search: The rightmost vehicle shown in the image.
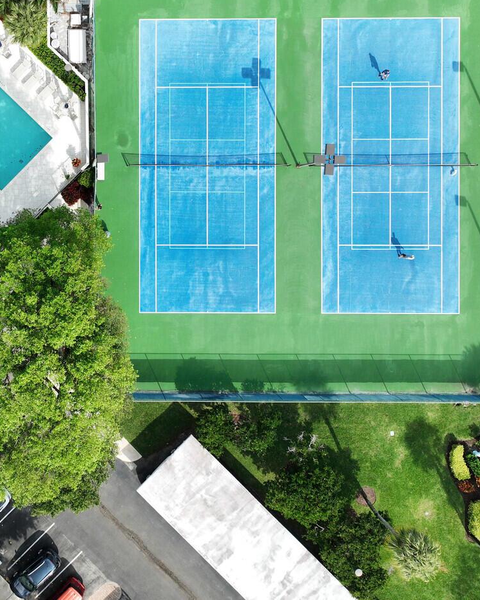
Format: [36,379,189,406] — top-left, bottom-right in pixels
[49,575,89,600]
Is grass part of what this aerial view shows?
Yes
